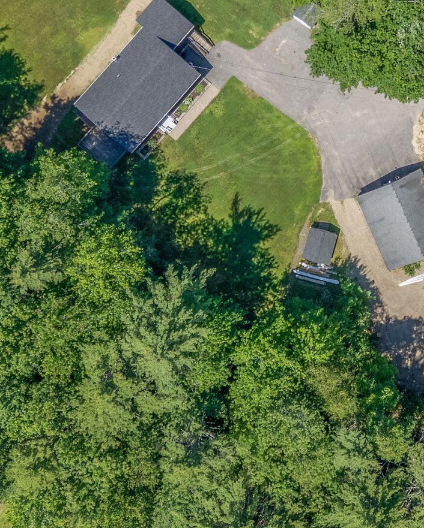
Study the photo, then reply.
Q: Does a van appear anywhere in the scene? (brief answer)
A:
No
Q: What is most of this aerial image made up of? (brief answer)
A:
trees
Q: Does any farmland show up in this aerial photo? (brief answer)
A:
No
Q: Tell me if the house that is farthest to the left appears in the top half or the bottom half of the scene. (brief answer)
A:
top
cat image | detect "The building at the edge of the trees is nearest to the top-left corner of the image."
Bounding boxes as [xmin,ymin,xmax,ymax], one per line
[73,0,201,164]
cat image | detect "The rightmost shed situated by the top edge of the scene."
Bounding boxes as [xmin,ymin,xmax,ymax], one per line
[293,0,324,29]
